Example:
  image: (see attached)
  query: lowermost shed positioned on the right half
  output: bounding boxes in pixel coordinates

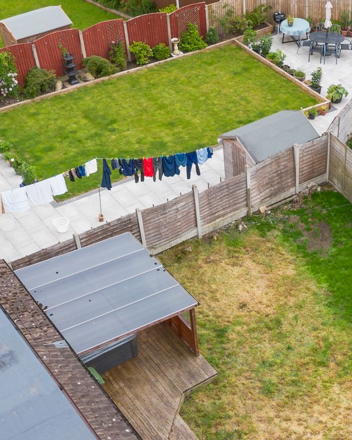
[214,107,320,176]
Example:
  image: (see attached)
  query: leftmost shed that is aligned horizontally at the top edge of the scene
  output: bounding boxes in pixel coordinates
[0,11,84,50]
